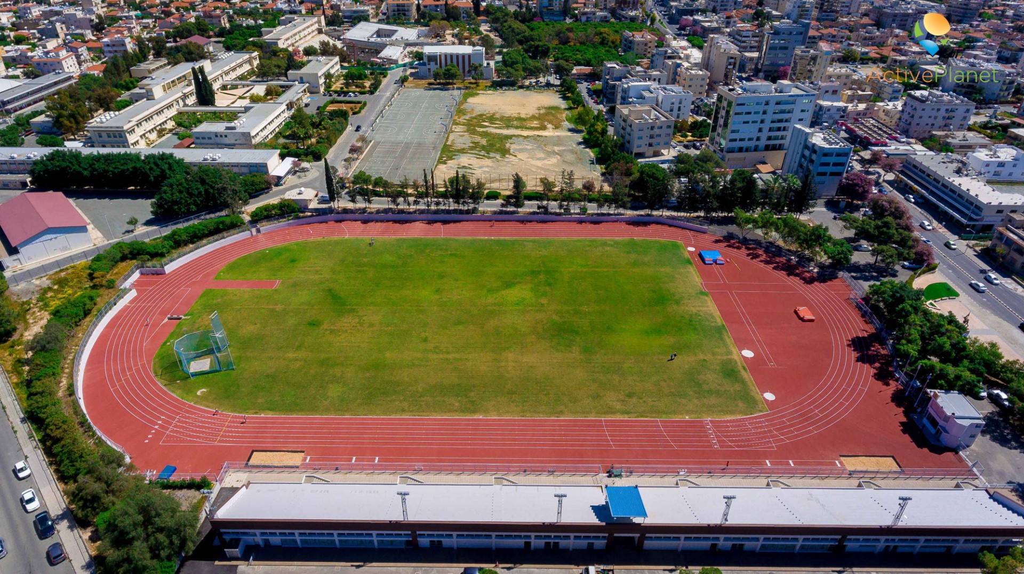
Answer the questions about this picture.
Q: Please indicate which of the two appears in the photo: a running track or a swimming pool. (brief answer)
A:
running track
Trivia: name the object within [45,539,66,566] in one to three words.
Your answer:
car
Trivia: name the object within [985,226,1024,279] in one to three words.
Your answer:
house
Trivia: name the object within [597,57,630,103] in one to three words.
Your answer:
building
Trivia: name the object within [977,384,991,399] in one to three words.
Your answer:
car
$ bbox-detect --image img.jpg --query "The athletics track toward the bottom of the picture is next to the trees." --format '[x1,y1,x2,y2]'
[82,220,978,480]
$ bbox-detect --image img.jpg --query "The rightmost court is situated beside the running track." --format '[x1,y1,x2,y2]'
[356,88,464,183]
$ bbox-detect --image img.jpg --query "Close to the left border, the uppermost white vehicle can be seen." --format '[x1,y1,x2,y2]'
[12,458,31,479]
